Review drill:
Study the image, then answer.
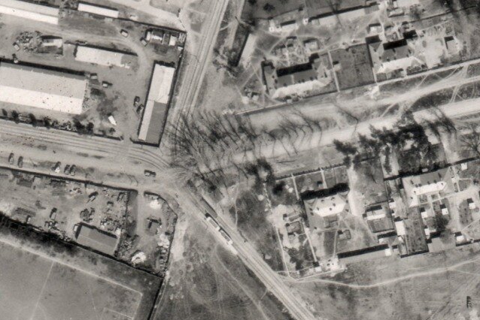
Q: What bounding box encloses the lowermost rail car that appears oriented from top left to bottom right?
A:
[220,228,234,246]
